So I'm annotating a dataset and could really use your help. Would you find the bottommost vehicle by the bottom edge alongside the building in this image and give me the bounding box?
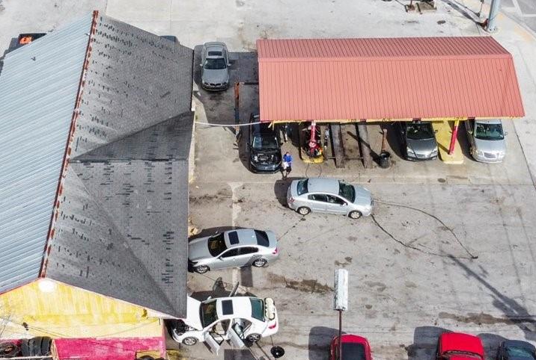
[172,277,277,349]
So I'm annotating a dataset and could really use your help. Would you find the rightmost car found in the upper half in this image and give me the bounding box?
[466,122,509,160]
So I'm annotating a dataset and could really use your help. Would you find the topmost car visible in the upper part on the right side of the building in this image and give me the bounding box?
[198,37,235,89]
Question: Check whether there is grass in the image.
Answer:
No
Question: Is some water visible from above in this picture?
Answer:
No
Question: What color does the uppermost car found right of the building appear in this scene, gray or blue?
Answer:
gray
